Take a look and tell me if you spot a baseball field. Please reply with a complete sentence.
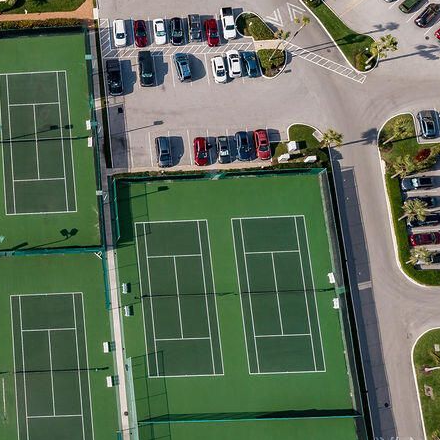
No, the photo shows no baseball field.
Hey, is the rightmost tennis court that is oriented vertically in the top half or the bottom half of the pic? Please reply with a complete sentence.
It is in the bottom half that the rightmost tennis court that is oriented vertically appears.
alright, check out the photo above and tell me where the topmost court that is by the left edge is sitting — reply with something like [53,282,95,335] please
[0,34,101,253]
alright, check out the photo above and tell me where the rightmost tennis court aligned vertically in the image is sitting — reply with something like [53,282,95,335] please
[215,174,355,421]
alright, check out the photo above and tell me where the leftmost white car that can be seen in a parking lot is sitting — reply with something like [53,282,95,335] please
[112,19,128,48]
